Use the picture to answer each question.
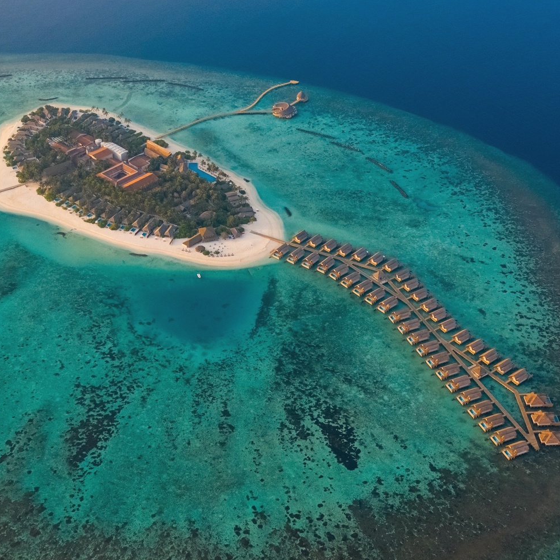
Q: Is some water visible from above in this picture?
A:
Yes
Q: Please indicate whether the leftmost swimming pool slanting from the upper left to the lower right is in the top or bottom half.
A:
top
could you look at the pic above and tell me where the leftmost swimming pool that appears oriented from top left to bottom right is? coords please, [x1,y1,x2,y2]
[187,162,216,184]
